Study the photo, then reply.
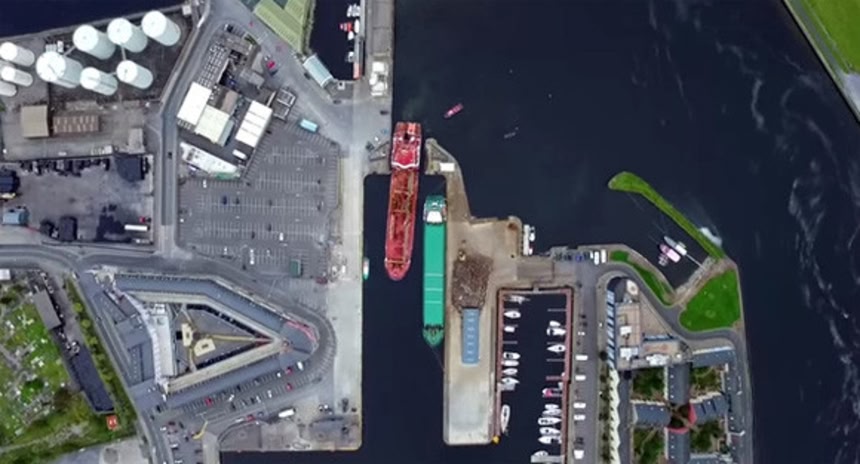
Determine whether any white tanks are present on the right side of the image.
No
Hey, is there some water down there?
Yes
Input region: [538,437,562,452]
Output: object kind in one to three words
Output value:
boat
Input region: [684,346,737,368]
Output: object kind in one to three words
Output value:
house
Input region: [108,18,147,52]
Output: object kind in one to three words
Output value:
storage tank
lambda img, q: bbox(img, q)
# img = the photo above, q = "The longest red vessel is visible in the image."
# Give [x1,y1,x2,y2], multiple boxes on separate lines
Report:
[385,121,422,281]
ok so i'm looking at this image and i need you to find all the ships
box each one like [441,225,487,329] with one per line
[422,195,447,348]
[385,121,422,281]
